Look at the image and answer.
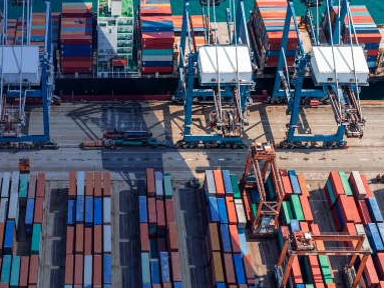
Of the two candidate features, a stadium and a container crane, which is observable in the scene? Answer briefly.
container crane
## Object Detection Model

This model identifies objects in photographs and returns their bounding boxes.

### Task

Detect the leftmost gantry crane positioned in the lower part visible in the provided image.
[245,148,283,233]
